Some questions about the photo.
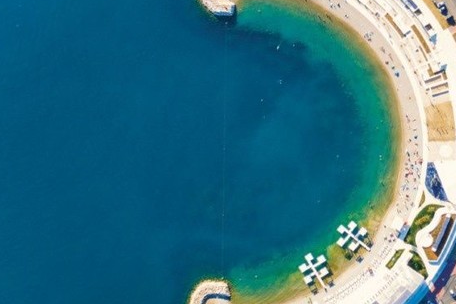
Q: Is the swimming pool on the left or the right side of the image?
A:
right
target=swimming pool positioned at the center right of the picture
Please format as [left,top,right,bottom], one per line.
[425,161,446,202]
